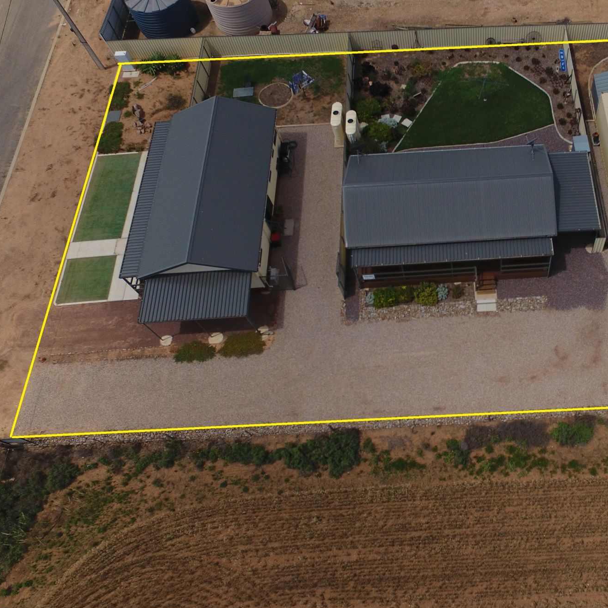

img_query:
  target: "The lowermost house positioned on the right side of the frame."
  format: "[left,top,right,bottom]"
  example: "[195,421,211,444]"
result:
[343,143,603,311]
